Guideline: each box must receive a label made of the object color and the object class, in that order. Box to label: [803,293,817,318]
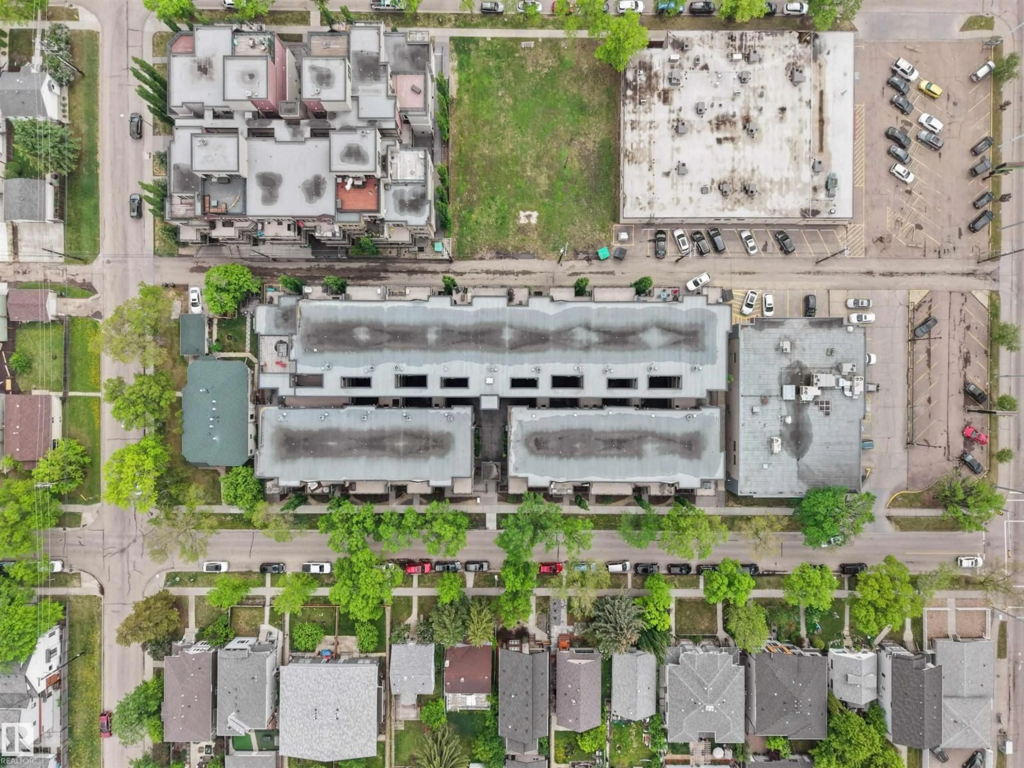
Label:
gray car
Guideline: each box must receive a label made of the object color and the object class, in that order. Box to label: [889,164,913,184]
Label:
white car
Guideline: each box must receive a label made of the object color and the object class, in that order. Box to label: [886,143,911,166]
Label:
gray car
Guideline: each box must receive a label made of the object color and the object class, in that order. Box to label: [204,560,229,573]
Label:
white vehicle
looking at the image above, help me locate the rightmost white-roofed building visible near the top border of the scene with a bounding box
[621,30,854,225]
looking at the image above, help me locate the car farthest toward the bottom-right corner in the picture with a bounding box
[964,748,987,768]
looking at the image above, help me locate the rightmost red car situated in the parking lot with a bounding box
[961,426,989,445]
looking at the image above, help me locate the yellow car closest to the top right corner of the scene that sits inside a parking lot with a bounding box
[916,80,943,101]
